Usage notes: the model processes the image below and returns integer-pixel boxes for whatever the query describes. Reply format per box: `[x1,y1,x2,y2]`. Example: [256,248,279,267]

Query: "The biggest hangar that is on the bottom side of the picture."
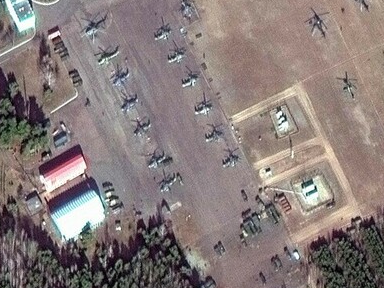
[48,190,105,237]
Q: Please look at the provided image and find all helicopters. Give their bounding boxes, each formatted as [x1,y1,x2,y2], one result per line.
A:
[154,25,176,43]
[119,98,140,116]
[147,154,167,172]
[181,73,203,89]
[82,21,107,42]
[205,127,227,145]
[306,13,329,35]
[178,2,197,20]
[110,73,132,90]
[168,50,188,66]
[156,180,178,196]
[131,123,153,140]
[97,51,120,68]
[193,100,216,117]
[221,153,242,170]
[339,78,357,97]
